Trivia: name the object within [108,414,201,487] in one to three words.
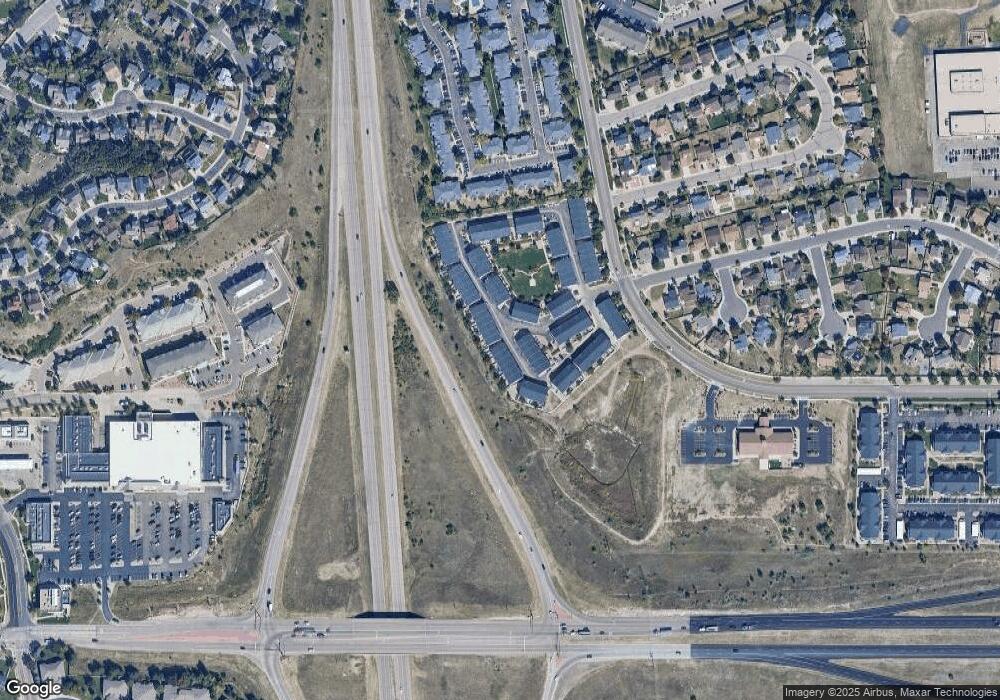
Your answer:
building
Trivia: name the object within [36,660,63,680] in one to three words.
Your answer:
house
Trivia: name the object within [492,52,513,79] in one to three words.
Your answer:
building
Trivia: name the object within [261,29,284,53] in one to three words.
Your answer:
house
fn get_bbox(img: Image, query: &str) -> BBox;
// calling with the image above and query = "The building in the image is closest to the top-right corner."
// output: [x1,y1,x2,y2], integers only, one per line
[937,52,1000,140]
